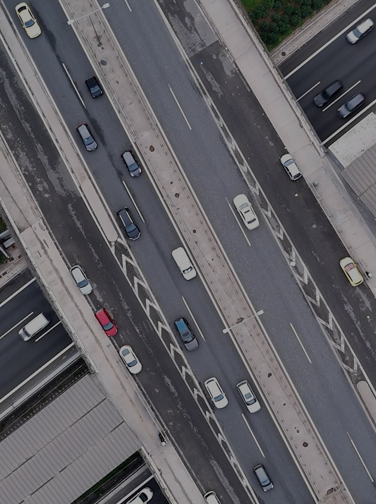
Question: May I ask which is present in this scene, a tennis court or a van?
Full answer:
The image shows a van.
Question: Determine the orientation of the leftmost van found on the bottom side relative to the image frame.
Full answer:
Seen from above, the leftmost van found on the bottom side lies on a diagonal.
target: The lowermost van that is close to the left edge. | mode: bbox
[17,311,53,343]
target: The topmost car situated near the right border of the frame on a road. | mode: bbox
[345,17,376,46]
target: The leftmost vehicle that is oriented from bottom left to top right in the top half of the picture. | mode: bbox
[311,76,347,110]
